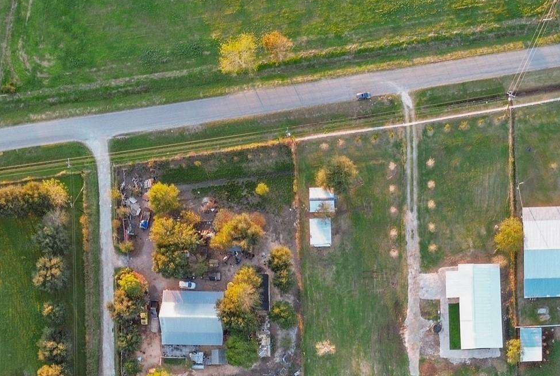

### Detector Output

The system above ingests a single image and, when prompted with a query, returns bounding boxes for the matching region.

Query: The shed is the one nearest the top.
[309,188,336,217]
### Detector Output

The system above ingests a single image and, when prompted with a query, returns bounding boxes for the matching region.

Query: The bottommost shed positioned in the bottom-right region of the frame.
[521,328,543,361]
